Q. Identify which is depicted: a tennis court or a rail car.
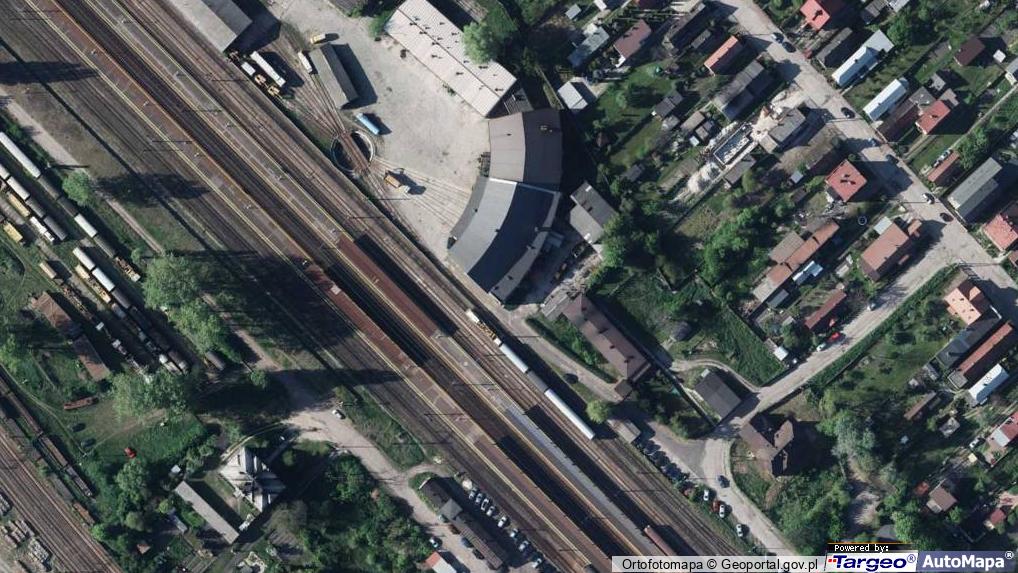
rail car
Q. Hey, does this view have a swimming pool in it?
No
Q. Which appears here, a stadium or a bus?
bus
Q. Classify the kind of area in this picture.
residential area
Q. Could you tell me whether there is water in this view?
No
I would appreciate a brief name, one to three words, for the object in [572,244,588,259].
vehicle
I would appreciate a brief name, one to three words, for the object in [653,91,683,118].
shed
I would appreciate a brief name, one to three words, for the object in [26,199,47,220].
rail car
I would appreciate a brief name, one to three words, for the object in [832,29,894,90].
house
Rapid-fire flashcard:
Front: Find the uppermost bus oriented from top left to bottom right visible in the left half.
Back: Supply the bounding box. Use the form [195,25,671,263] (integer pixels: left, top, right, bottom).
[250,51,287,89]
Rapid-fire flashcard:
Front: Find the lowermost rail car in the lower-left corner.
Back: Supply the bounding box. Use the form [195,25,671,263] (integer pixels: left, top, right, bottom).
[71,501,96,526]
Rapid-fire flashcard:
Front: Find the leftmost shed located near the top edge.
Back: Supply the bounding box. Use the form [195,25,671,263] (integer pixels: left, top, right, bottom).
[167,0,253,53]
